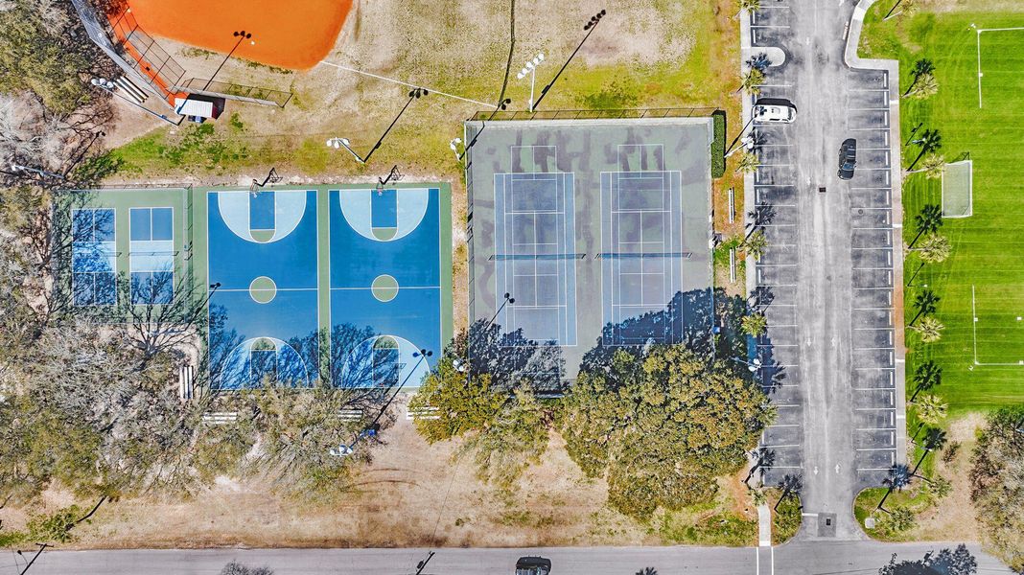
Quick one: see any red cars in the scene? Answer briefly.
No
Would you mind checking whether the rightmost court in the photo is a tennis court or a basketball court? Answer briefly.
tennis court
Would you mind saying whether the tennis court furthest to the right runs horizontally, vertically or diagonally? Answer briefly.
vertically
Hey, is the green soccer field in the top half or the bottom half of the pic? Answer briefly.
top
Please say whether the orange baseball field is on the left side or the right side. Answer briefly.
left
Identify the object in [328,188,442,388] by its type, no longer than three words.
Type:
basketball court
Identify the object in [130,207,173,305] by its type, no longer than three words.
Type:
sports court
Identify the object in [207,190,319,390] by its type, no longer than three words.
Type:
basketball court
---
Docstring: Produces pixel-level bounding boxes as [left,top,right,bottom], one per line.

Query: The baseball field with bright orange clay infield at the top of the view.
[101,0,498,107]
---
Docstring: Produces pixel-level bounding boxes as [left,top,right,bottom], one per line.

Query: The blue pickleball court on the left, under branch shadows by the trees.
[72,208,116,305]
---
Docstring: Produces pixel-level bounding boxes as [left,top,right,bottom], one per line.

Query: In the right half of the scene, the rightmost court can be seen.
[600,145,683,373]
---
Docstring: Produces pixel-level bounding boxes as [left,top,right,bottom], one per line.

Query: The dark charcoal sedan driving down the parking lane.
[836,145,855,181]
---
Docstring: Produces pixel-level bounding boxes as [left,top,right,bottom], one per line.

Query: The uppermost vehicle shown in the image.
[754,104,794,123]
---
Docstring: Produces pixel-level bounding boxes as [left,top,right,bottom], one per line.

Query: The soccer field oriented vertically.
[937,22,1024,371]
